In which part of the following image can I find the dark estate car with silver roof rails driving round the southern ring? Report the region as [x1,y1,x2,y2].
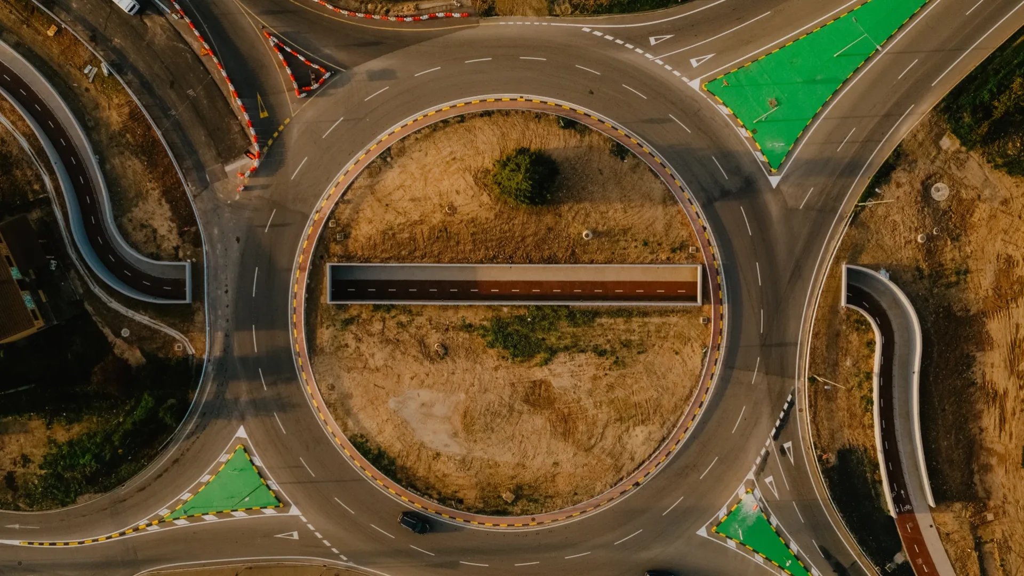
[397,510,430,534]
